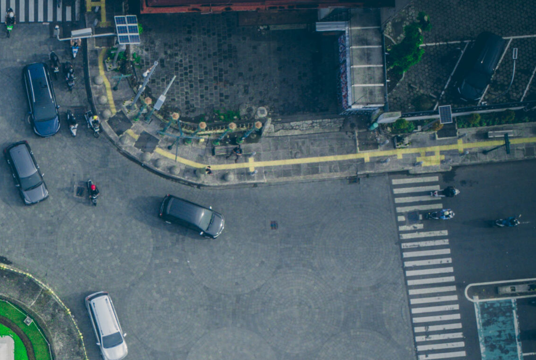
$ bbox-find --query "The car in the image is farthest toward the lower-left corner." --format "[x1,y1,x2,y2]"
[82,288,126,360]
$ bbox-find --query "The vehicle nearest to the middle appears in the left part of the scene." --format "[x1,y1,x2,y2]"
[158,193,222,240]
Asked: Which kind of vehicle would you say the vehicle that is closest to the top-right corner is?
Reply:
automobile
